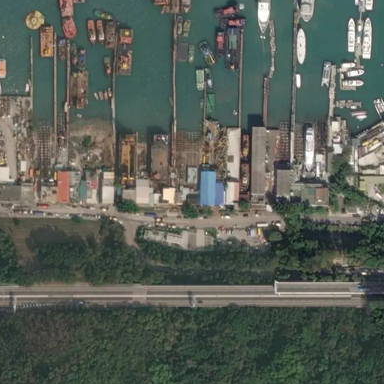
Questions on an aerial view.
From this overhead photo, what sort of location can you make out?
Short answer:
port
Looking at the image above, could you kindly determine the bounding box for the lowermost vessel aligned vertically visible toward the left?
[120,134,136,178]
